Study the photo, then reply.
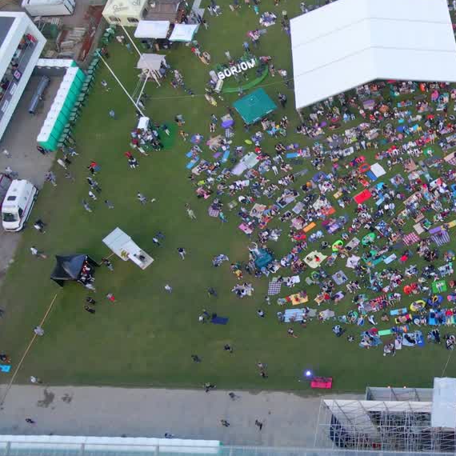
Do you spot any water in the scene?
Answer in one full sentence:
No, water can't be seen anywhere here.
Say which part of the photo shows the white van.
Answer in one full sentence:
The white van is in the left part of the image.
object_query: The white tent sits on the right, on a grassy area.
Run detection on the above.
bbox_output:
[289,0,456,130]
